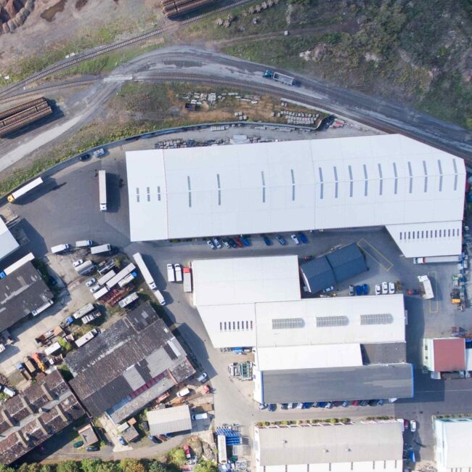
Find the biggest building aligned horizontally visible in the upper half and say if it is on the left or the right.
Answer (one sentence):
It is on the right.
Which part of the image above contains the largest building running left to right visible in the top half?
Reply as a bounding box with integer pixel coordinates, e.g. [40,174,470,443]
[162,134,467,240]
